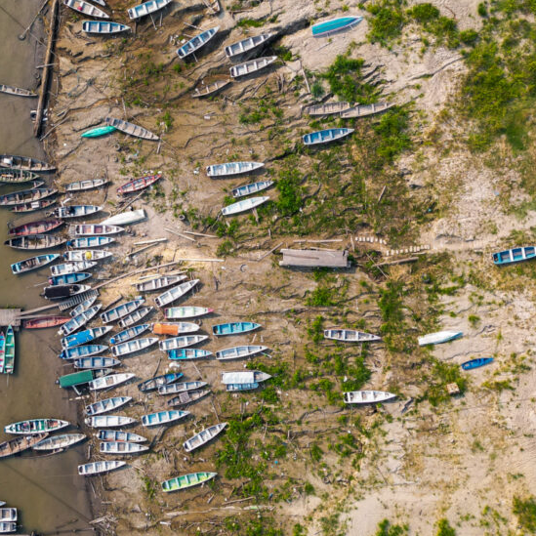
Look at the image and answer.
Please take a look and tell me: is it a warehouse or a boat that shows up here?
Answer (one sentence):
The image shows a boat.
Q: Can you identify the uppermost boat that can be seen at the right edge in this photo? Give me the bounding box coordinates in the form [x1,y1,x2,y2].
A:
[492,247,536,264]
